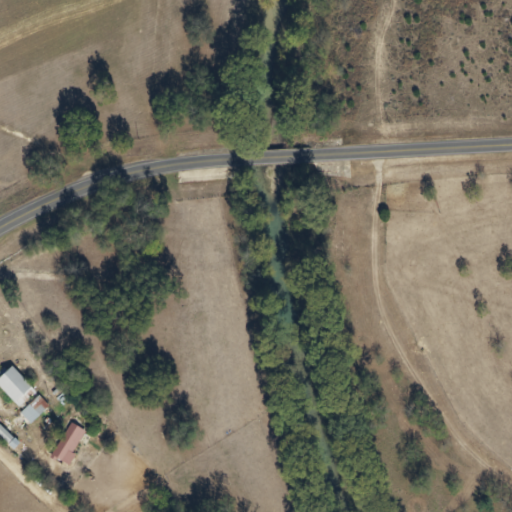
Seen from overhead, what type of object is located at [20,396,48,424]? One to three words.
shed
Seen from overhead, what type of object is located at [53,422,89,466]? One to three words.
house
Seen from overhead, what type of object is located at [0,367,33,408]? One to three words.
barn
